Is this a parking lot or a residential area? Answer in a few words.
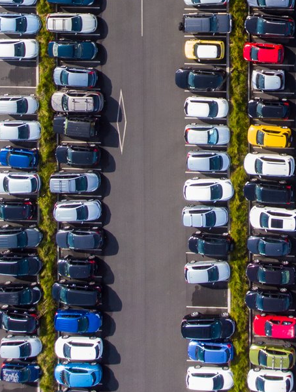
parking lot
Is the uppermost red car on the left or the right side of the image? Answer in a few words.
right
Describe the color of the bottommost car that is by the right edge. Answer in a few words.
white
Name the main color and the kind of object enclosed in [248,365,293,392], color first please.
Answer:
white car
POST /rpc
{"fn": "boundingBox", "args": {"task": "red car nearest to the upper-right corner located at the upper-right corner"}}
[244,42,284,65]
